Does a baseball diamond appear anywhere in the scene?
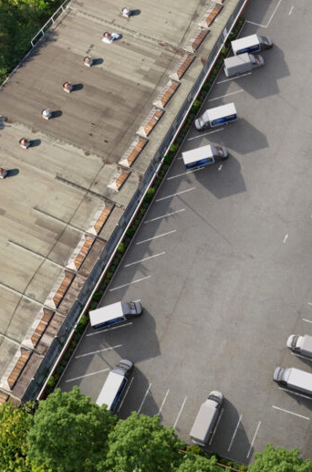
No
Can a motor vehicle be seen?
Yes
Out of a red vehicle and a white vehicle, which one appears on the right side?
white vehicle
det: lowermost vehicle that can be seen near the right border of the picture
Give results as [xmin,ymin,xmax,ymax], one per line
[275,370,312,396]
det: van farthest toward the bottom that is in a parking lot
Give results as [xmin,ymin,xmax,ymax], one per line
[190,395,223,445]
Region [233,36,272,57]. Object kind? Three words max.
vehicle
